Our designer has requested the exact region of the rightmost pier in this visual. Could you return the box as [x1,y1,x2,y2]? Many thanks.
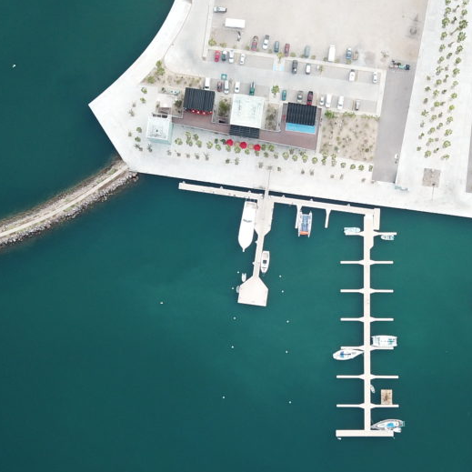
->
[336,211,398,437]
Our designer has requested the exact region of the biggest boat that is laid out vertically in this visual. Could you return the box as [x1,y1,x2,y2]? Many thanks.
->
[239,198,258,254]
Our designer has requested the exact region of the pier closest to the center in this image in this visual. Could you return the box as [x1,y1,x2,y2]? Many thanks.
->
[179,174,380,307]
